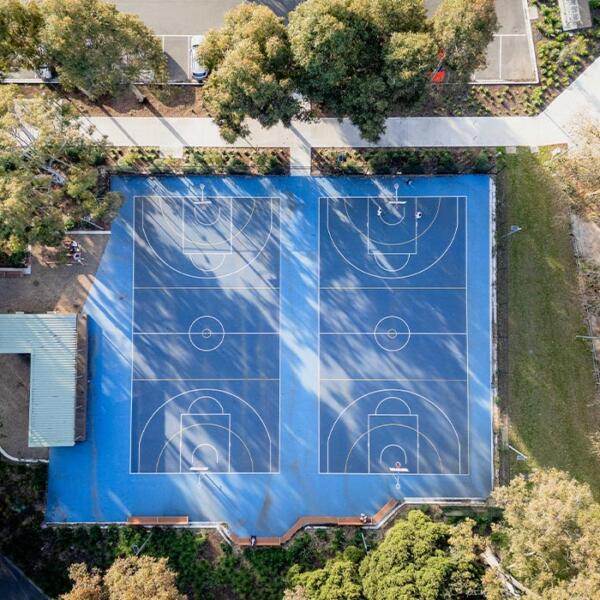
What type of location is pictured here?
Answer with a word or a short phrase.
sports ground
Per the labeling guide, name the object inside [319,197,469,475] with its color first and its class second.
blue basketball court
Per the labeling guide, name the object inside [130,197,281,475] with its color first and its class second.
blue basketball court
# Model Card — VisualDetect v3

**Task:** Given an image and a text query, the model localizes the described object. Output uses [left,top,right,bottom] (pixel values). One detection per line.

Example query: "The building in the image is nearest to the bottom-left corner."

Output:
[0,309,89,447]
